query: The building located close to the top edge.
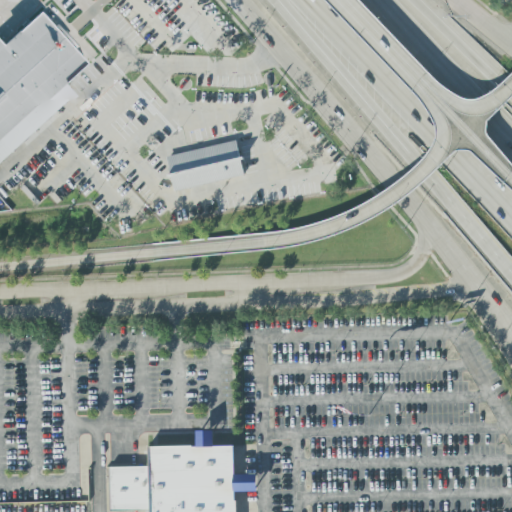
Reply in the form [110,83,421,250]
[0,0,90,166]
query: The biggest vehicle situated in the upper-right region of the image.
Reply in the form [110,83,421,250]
[404,128,424,150]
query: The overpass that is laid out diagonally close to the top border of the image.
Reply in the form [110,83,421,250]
[326,0,512,190]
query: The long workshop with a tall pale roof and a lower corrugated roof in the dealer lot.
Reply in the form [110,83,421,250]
[168,141,248,190]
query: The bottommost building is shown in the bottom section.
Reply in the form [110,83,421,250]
[108,430,258,512]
